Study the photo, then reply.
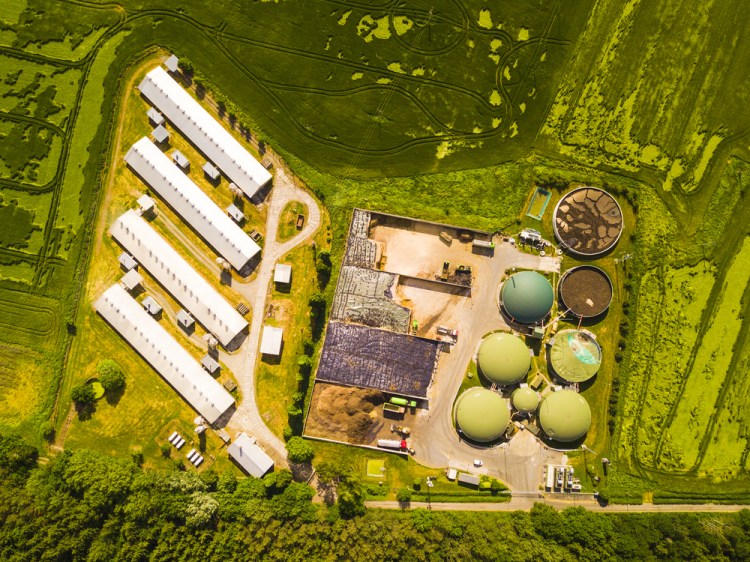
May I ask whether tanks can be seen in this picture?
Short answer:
Yes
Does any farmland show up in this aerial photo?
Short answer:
Yes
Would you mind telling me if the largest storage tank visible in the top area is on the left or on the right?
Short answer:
right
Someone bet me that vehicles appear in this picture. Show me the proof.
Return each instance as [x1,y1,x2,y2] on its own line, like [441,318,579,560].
[441,262,450,281]
[383,402,405,414]
[390,422,411,433]
[390,396,417,407]
[412,322,417,335]
[458,265,471,272]
[472,459,483,465]
[437,327,458,336]
[472,238,494,249]
[378,438,406,448]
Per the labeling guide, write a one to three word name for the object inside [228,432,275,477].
house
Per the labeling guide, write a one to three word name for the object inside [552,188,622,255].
storage tank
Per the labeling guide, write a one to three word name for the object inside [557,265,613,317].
storage tank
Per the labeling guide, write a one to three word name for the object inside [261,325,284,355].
shed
